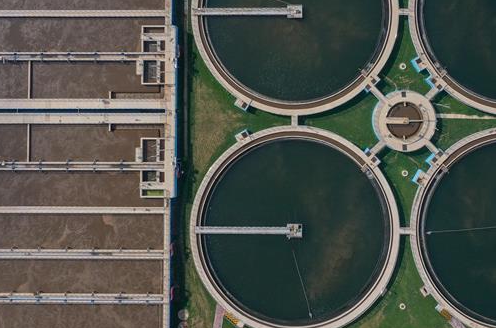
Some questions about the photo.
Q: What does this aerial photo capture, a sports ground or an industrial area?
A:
industrial area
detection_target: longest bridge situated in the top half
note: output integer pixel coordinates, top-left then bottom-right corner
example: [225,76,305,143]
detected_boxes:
[192,4,303,18]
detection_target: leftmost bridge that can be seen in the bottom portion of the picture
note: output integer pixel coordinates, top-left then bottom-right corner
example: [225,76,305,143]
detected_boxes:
[190,222,302,238]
